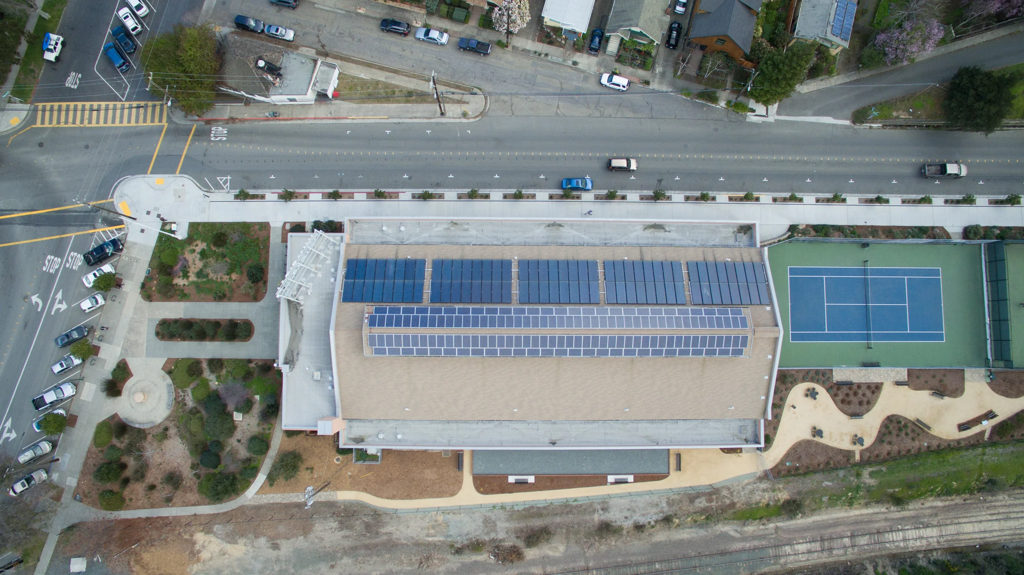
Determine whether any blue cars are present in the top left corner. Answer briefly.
Yes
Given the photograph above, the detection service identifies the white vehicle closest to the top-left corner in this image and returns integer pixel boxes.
[44,32,64,60]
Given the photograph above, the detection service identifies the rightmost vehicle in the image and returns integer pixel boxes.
[921,162,967,178]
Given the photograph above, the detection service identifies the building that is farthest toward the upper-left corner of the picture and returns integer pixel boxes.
[214,35,342,107]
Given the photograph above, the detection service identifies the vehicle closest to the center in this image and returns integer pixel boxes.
[561,176,592,190]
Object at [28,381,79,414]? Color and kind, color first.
white vehicle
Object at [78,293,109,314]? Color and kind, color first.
white car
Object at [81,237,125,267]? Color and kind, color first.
black vehicle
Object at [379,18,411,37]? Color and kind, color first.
black car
